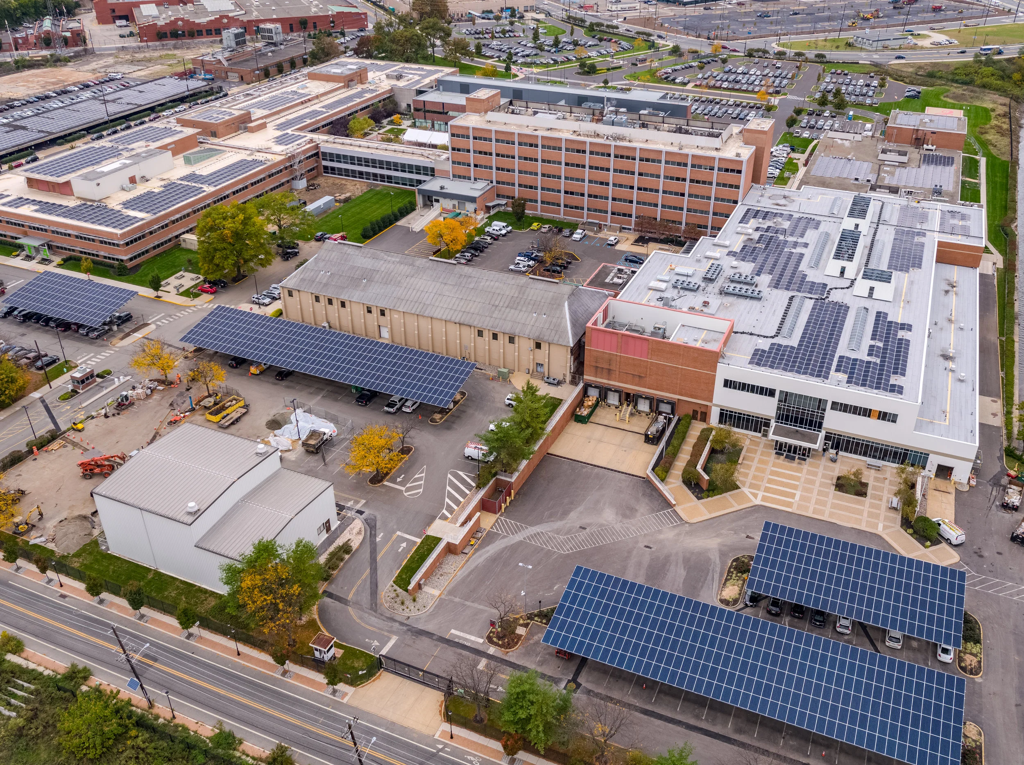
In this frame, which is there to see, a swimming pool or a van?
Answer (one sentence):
Of the two, only a van appears.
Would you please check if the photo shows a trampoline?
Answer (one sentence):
No, no trampoline is visible in the scene.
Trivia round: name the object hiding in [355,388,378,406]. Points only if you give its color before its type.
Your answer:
black vehicle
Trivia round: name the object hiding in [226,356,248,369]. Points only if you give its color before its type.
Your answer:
black vehicle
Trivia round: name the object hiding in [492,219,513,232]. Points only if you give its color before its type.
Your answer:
white vehicle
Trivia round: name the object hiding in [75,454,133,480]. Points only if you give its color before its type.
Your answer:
red work vehicle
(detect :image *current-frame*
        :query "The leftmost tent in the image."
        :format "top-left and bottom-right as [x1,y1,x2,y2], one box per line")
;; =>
[400,123,446,145]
